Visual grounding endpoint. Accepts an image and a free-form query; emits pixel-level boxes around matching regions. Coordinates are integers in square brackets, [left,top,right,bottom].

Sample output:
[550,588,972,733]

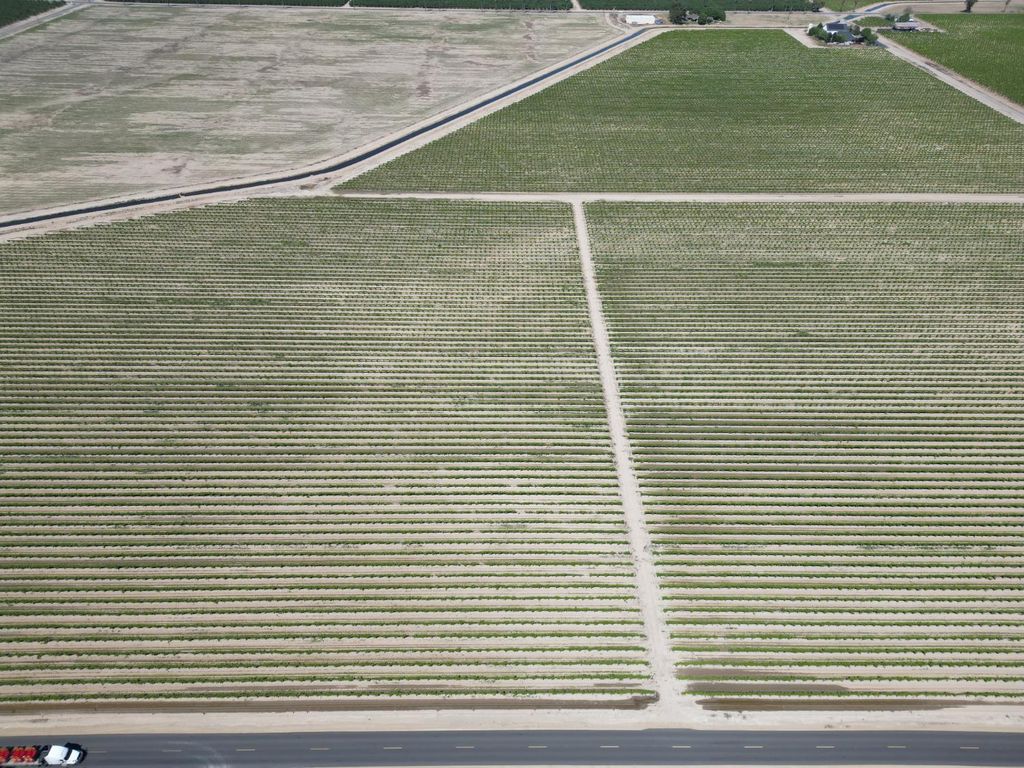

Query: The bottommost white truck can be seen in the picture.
[33,745,87,766]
